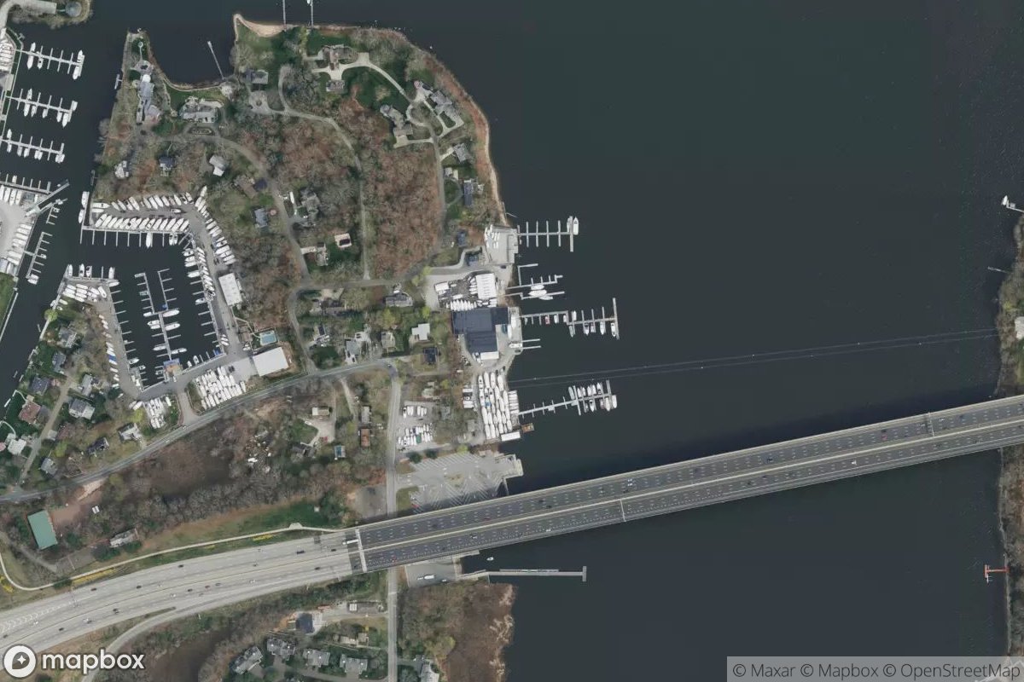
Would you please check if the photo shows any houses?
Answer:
Yes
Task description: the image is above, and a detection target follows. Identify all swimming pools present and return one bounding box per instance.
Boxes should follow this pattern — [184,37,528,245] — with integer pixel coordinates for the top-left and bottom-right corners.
[334,444,344,458]
[260,332,277,345]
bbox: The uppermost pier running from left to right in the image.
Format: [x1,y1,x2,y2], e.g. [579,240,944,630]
[16,45,85,76]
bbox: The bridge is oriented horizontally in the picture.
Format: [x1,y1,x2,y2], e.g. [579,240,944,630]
[343,395,1024,576]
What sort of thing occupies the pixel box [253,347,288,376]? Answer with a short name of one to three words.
building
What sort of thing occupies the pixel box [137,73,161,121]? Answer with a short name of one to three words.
house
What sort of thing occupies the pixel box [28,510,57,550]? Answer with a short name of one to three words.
building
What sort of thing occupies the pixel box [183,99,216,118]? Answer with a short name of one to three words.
house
